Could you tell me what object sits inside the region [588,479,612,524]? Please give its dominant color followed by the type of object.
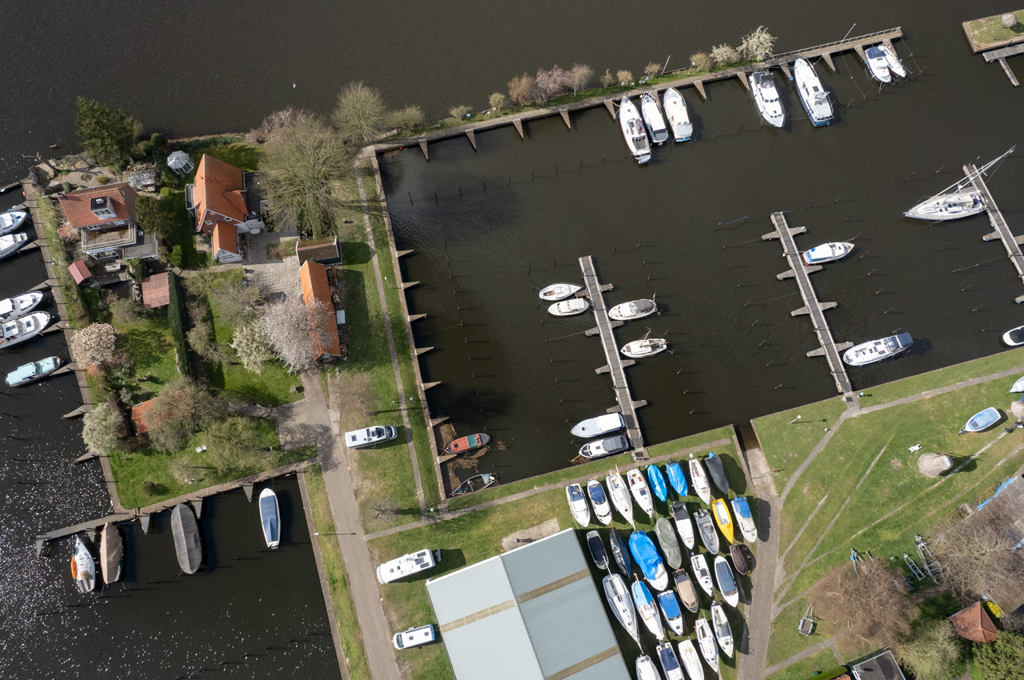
white boat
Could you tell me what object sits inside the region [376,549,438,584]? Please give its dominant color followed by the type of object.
white camper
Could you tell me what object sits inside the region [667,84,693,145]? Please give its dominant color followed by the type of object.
white boat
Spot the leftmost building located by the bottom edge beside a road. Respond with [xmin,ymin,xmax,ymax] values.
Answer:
[425,526,631,680]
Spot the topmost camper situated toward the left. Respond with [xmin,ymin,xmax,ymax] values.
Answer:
[345,425,400,450]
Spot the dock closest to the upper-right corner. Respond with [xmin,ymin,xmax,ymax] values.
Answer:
[980,44,1024,86]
